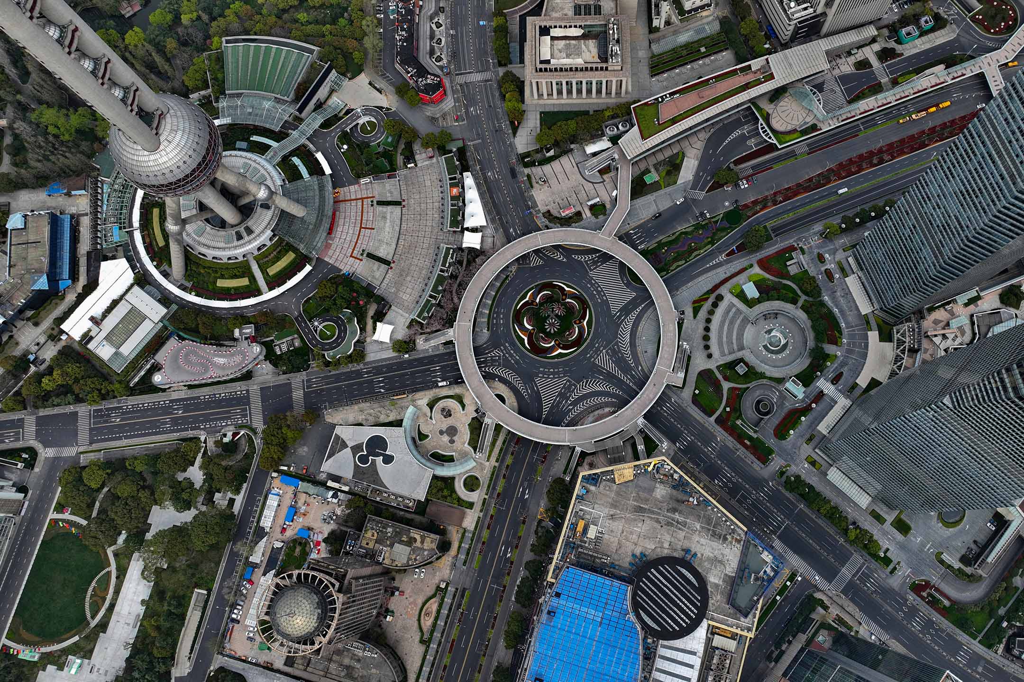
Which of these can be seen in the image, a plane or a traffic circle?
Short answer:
traffic circle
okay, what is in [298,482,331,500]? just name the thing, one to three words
tent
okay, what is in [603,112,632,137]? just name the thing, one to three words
building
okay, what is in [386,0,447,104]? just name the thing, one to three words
building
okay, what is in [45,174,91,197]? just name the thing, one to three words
shed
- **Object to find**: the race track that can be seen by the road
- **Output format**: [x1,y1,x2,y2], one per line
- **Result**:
[152,339,267,388]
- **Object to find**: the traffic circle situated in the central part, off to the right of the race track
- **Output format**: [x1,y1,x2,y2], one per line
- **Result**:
[473,244,660,428]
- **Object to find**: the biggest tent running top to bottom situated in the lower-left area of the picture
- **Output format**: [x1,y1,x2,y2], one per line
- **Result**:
[262,494,281,535]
